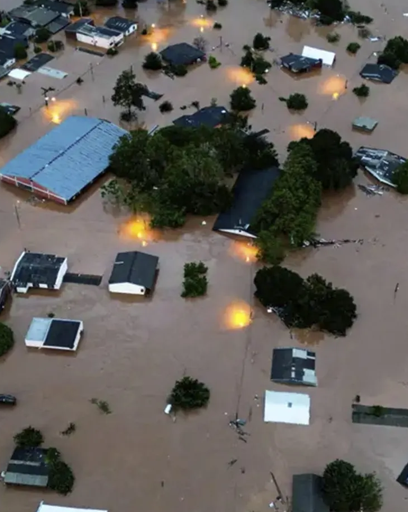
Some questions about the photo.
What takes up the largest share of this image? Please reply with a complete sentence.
The largest share of the image is taken up by water.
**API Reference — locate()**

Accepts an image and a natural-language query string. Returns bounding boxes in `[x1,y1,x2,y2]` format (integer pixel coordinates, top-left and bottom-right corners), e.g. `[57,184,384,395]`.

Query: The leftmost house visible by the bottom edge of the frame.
[4,446,49,488]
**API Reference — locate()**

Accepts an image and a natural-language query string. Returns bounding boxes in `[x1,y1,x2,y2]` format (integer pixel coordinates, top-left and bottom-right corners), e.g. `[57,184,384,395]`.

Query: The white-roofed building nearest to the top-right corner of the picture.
[301,45,335,71]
